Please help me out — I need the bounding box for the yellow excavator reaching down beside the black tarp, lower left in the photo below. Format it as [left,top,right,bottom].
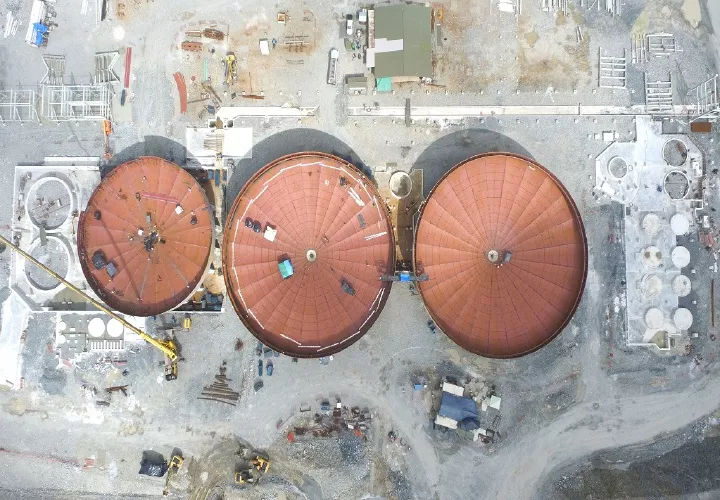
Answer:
[165,456,182,489]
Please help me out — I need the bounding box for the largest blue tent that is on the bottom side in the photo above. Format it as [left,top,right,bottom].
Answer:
[439,392,480,429]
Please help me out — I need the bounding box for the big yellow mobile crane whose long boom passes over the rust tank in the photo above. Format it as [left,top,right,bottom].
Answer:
[0,231,192,383]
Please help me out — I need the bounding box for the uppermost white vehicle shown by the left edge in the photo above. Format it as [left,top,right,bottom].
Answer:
[18,0,46,46]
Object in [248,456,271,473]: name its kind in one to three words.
work vehicle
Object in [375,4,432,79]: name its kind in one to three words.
building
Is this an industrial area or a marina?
industrial area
